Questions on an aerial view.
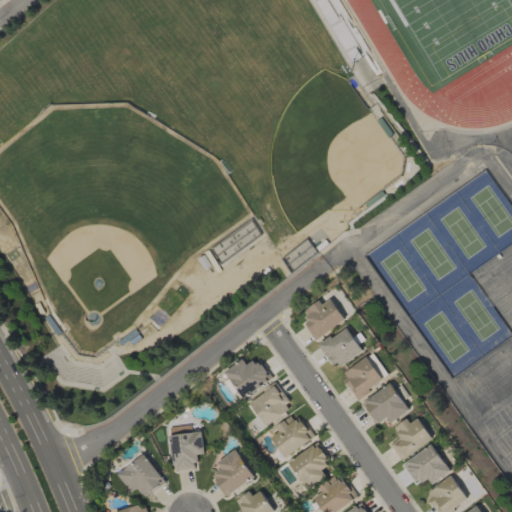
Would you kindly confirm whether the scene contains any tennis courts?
Yes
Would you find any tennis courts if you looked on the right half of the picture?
Yes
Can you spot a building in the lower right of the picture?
Yes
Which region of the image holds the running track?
top right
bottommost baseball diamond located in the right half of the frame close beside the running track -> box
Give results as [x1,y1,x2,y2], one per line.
[272,70,405,231]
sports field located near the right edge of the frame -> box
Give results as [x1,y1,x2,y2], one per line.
[375,0,512,94]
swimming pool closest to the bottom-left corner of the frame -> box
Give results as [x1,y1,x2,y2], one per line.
[107,498,128,510]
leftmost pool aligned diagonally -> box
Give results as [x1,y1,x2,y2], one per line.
[123,440,140,460]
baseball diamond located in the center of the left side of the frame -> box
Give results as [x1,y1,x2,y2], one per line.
[0,104,253,353]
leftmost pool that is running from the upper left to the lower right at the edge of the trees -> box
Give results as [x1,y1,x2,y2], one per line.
[218,382,234,402]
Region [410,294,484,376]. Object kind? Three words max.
tennis court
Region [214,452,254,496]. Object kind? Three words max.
house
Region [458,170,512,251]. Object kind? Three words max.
tennis court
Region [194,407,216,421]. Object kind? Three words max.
swimming pool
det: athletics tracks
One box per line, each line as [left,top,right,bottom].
[344,0,512,128]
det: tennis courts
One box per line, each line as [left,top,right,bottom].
[458,170,512,251]
[368,234,440,316]
[398,213,470,294]
[410,294,484,376]
[428,192,500,272]
[441,273,512,354]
